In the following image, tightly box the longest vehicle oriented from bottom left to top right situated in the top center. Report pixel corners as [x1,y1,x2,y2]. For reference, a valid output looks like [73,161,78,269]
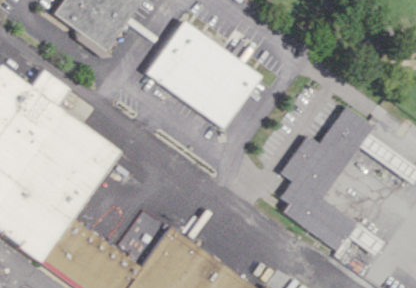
[240,44,255,62]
